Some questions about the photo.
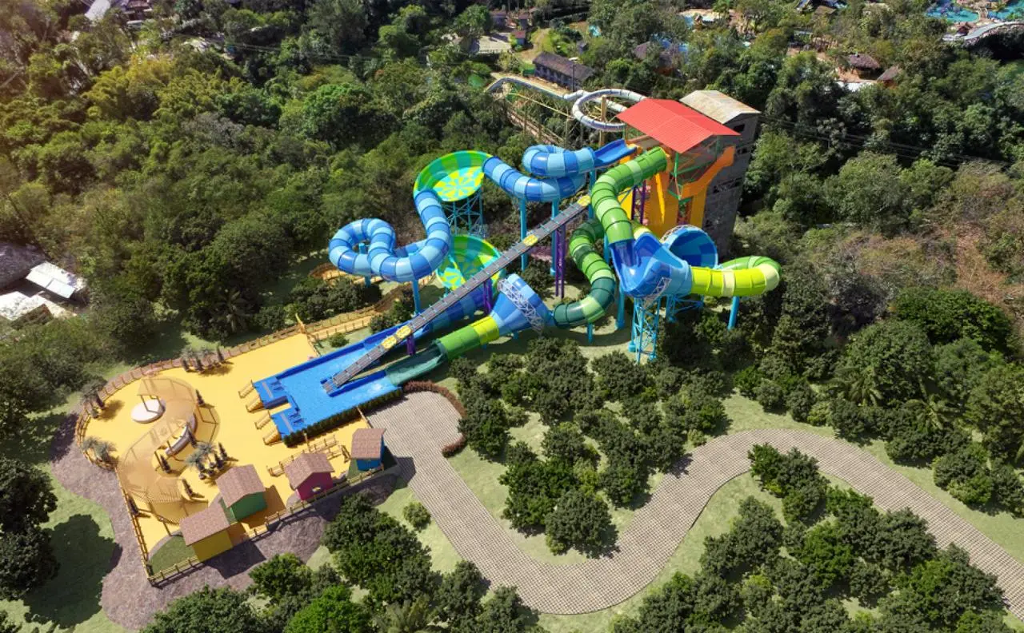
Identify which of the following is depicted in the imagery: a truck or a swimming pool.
swimming pool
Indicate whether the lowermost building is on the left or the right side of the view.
left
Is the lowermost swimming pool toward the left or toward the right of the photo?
left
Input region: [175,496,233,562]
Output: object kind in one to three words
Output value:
building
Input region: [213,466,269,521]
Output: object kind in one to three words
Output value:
building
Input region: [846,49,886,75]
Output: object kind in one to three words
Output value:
shed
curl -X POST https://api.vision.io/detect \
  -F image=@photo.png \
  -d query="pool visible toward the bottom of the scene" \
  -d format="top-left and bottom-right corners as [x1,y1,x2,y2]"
[255,322,399,442]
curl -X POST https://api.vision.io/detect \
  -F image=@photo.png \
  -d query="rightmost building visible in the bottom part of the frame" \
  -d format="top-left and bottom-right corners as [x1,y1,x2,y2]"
[345,420,385,468]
